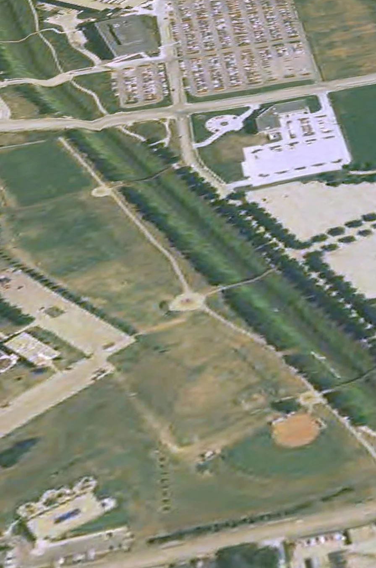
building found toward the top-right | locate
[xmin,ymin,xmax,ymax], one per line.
[259,98,310,134]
